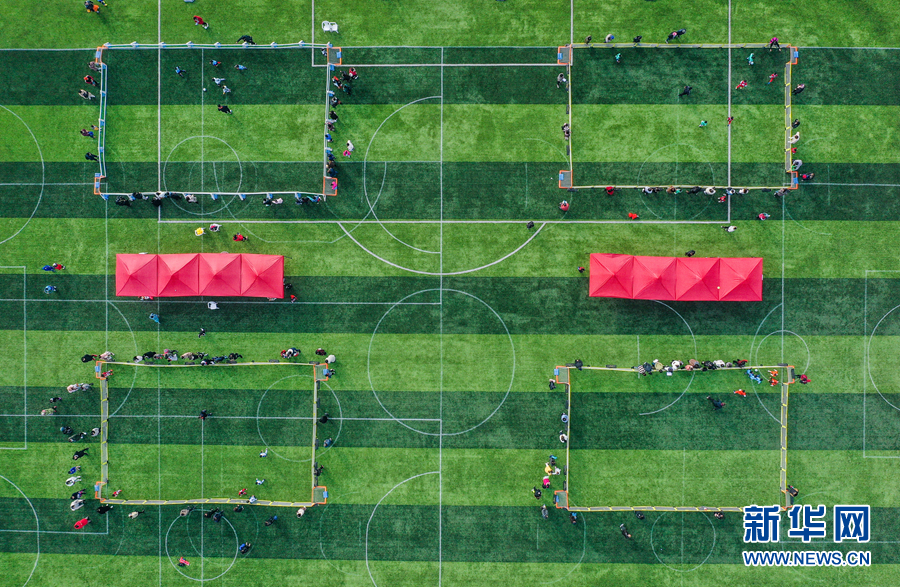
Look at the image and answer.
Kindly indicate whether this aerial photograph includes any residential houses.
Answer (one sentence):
No, I can't see a single residential house in this photo.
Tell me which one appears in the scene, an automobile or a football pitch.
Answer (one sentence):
Visible in the photo is a football pitch.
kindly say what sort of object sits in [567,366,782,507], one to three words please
soccer field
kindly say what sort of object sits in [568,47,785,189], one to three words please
soccer field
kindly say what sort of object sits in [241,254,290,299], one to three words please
tent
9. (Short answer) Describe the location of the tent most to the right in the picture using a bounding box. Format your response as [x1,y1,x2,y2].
[719,257,763,301]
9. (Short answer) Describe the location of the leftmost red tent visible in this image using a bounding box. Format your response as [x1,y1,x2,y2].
[116,254,157,296]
